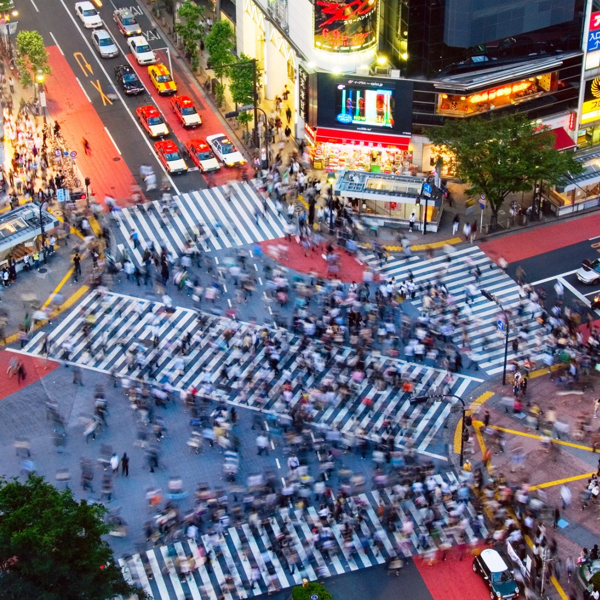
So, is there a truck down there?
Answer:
No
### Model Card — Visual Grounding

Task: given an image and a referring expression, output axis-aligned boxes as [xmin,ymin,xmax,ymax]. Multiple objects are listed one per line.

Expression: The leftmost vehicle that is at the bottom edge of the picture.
[471,542,522,599]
